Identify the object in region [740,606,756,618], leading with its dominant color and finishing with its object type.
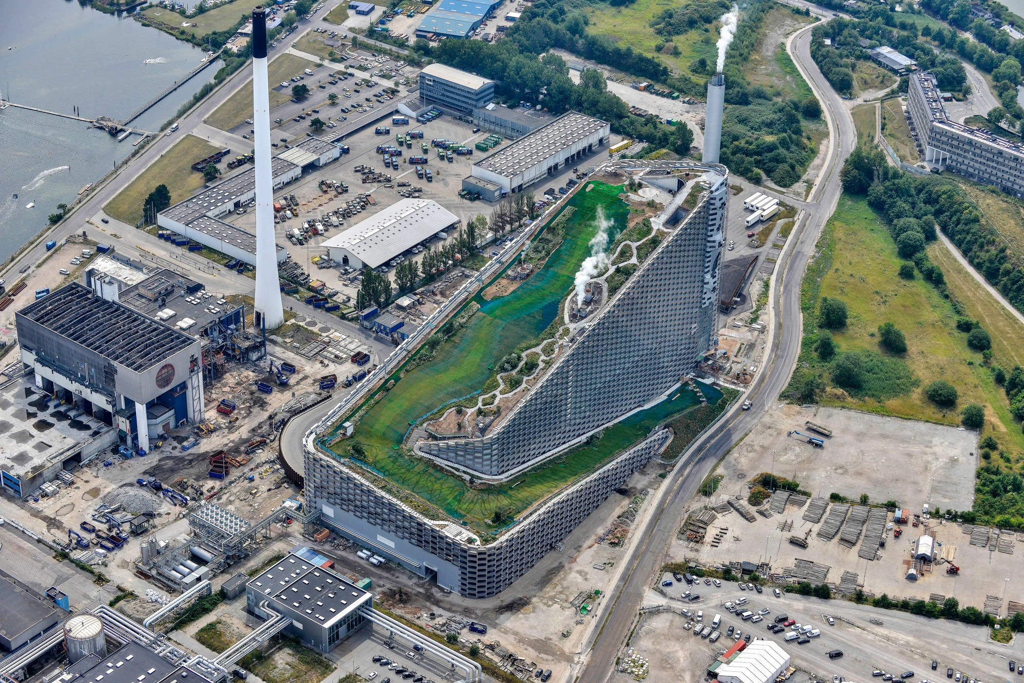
white vehicle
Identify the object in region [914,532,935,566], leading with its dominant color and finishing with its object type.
white tent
